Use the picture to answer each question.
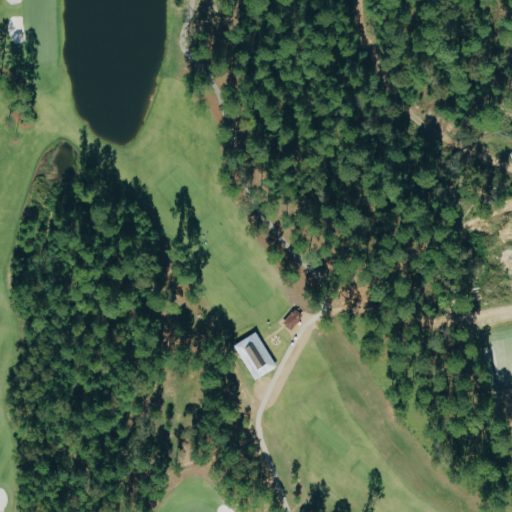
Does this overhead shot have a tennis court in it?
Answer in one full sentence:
No, no tennis court is visible in the view.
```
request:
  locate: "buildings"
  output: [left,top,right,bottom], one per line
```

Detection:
[284,310,302,330]
[234,332,277,380]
